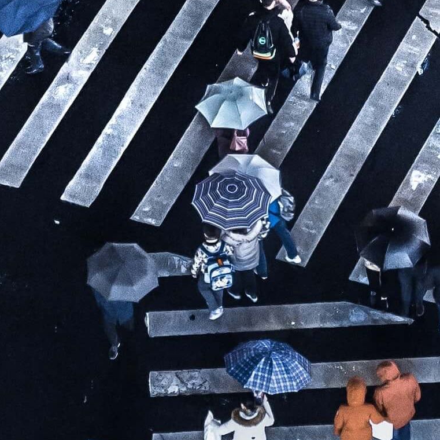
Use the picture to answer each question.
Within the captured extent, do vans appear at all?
No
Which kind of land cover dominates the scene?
paved ground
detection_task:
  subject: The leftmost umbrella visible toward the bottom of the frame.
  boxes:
[87,242,159,309]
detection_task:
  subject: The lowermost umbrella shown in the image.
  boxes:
[223,337,312,409]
